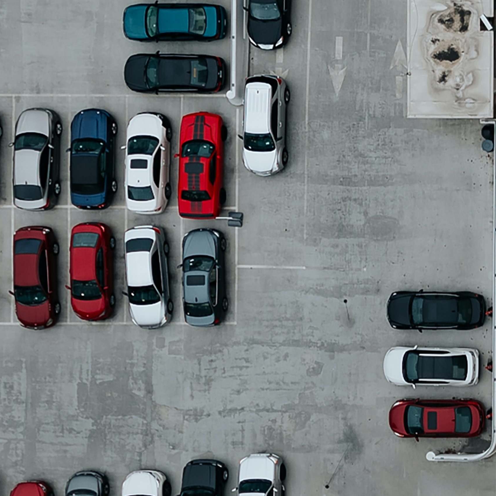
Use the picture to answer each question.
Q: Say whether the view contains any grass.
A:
No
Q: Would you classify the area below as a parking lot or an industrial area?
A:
parking lot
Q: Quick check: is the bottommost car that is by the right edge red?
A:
Yes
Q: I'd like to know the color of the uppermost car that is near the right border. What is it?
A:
black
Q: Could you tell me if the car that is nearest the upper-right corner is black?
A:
Yes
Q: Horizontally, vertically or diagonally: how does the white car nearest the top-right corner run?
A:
vertically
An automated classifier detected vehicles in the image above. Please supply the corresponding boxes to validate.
[389,395,485,443]
[173,458,228,496]
[122,469,172,496]
[66,470,109,496]
[6,107,62,212]
[229,453,286,496]
[65,108,118,209]
[387,287,487,335]
[123,0,227,43]
[125,47,226,96]
[172,112,227,217]
[118,224,173,329]
[242,0,291,51]
[63,222,115,322]
[383,342,481,393]
[175,227,228,327]
[237,74,290,177]
[7,226,61,330]
[118,112,172,214]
